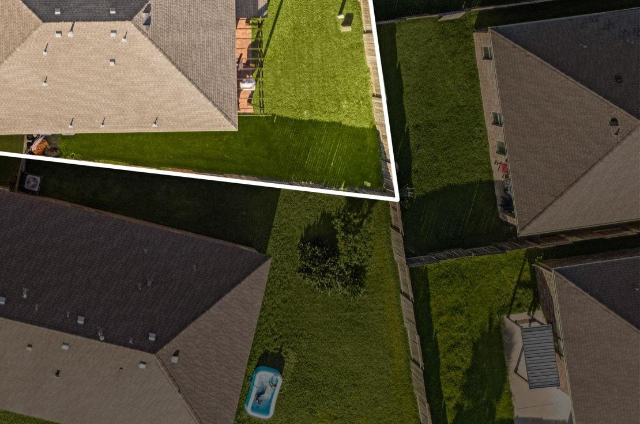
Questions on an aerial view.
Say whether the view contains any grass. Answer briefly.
Yes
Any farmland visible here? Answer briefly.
No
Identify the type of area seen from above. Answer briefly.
residential area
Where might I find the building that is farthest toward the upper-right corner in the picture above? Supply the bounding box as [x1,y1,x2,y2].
[474,6,640,238]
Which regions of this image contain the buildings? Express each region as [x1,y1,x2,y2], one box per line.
[0,187,271,424]
[0,0,240,135]
[536,248,640,424]
[474,6,640,238]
